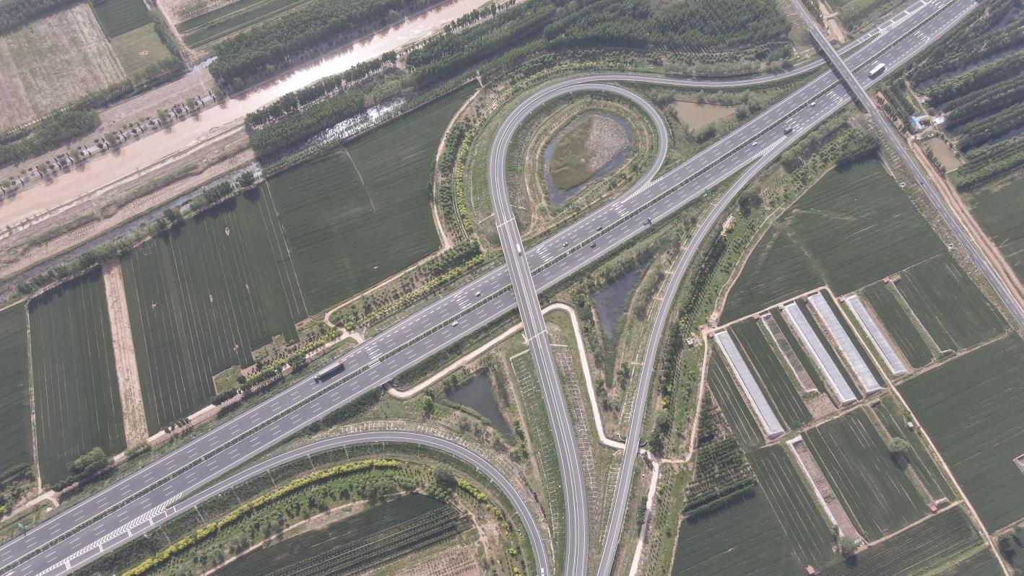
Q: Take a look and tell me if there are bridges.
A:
Yes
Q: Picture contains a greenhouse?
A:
Yes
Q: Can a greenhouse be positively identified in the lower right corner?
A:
Yes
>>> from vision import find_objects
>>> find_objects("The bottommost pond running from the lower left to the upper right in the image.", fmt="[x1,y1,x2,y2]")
[592,261,645,339]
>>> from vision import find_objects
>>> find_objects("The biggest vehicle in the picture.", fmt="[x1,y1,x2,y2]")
[316,365,340,381]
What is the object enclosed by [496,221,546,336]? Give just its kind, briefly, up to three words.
overpass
